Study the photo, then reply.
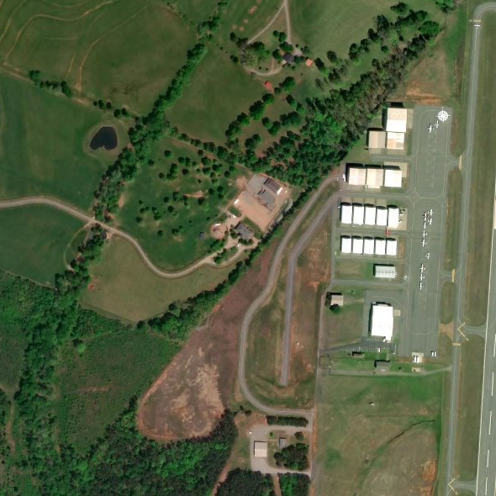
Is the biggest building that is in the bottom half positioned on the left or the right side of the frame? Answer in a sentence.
It is on the right.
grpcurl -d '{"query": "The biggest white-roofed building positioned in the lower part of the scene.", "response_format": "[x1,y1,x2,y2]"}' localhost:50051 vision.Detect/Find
[371,305,394,343]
